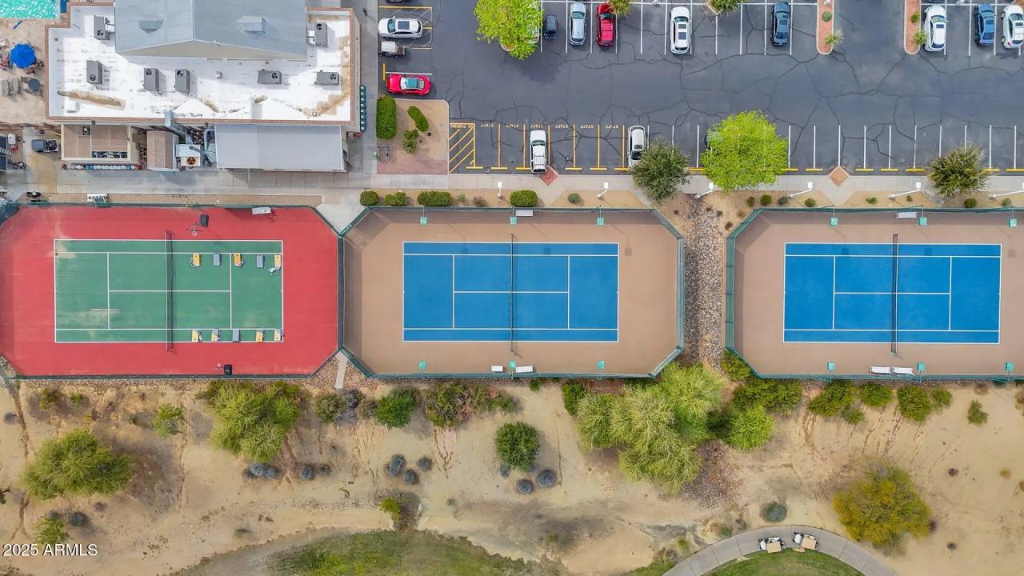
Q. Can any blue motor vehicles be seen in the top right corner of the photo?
Yes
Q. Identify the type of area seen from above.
sports ground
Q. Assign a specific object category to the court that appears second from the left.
tennis court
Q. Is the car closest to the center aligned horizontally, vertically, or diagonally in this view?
vertically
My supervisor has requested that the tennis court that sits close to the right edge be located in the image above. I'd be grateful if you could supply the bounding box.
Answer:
[726,211,1024,376]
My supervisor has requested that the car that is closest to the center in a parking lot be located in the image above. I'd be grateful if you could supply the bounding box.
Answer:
[529,131,549,174]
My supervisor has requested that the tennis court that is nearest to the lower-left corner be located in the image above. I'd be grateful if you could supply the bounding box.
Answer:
[0,206,340,376]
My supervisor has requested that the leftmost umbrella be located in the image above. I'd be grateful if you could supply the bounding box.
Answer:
[11,45,37,70]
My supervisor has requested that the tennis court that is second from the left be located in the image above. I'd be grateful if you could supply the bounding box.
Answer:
[344,210,678,374]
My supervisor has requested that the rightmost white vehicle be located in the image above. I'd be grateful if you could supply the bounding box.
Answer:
[1000,6,1024,50]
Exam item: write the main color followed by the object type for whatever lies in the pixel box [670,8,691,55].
white car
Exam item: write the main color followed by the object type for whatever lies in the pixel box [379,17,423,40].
white car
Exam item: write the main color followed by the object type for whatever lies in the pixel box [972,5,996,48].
blue car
